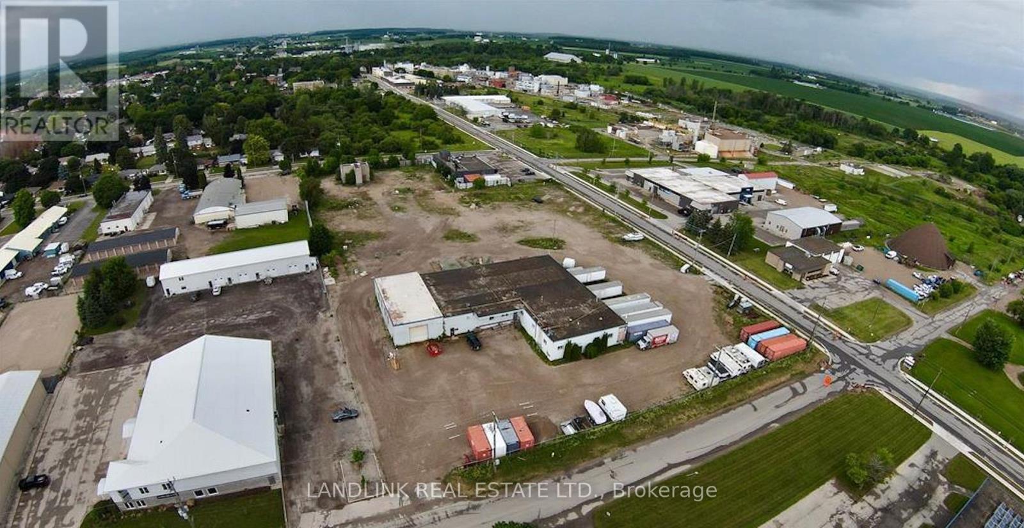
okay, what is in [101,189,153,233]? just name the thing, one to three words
building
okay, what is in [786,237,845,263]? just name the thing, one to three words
building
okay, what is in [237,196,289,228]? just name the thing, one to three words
barn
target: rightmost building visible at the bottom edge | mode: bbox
[97,334,285,515]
